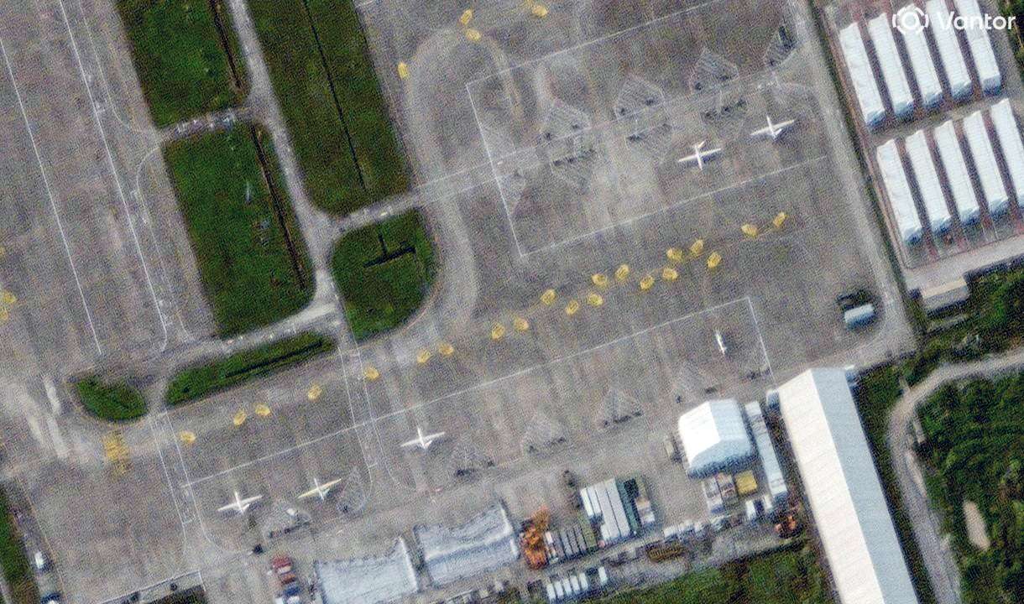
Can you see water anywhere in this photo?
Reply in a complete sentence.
No, water can't be seen anywhere here.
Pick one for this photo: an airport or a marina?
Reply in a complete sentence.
The area seen from above is an airport.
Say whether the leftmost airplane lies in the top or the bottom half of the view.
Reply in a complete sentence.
The leftmost airplane is in the bottom half of the image.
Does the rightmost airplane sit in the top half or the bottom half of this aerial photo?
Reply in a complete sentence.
It is in the top half that the rightmost airplane appears.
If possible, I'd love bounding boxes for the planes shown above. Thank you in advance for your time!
[217,491,262,516]
[715,329,730,355]
[676,142,720,170]
[297,478,342,500]
[748,116,794,140]
[399,426,445,450]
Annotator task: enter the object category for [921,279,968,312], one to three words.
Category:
building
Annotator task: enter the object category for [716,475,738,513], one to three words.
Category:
truck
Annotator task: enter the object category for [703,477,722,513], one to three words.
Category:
vehicle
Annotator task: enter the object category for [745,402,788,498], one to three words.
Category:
building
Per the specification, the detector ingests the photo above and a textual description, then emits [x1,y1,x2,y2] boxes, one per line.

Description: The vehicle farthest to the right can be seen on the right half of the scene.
[837,287,870,306]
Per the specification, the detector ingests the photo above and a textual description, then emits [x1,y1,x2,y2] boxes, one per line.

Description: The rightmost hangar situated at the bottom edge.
[779,369,918,604]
